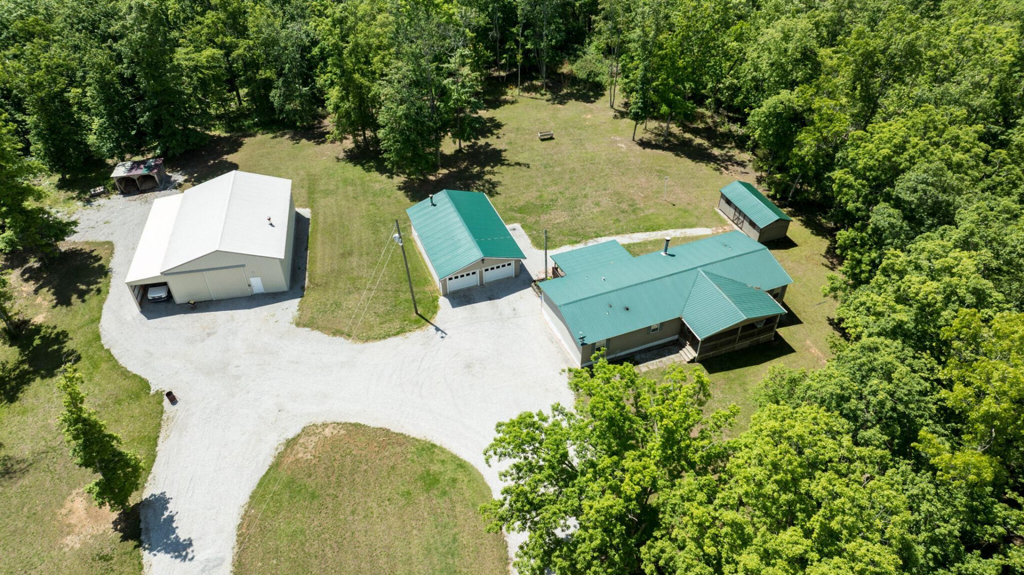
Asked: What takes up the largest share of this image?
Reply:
trees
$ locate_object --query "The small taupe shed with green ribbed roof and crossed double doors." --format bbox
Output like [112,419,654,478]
[712,181,793,243]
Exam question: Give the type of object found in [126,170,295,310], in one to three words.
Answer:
barn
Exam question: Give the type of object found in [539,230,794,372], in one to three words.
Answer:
house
